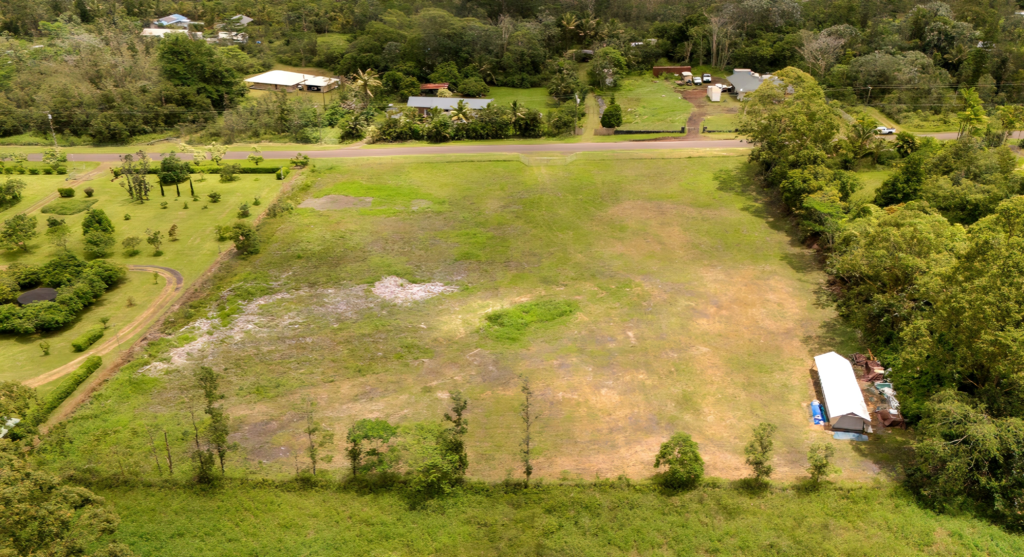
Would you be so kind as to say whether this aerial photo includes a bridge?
No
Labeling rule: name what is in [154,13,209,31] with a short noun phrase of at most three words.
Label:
house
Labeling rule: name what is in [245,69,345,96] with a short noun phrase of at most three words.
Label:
house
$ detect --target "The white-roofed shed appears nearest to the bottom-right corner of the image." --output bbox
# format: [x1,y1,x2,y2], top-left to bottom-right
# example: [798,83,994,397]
[813,351,870,432]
